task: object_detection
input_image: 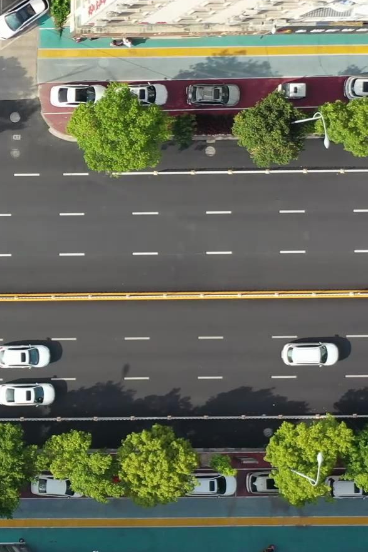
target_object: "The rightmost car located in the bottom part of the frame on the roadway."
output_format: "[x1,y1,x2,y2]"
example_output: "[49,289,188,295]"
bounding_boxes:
[280,341,337,369]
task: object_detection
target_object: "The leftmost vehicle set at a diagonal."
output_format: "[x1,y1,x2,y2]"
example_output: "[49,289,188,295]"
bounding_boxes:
[0,0,49,41]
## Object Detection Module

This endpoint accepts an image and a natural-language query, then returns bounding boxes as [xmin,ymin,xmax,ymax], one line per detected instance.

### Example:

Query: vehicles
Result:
[181,472,236,500]
[323,476,368,503]
[29,473,80,499]
[0,343,48,370]
[280,341,337,369]
[266,544,277,552]
[0,0,49,41]
[113,81,167,107]
[243,471,289,496]
[183,80,239,109]
[48,82,103,109]
[0,381,54,409]
[343,75,368,101]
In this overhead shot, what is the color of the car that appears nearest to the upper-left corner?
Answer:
white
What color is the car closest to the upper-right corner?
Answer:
white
